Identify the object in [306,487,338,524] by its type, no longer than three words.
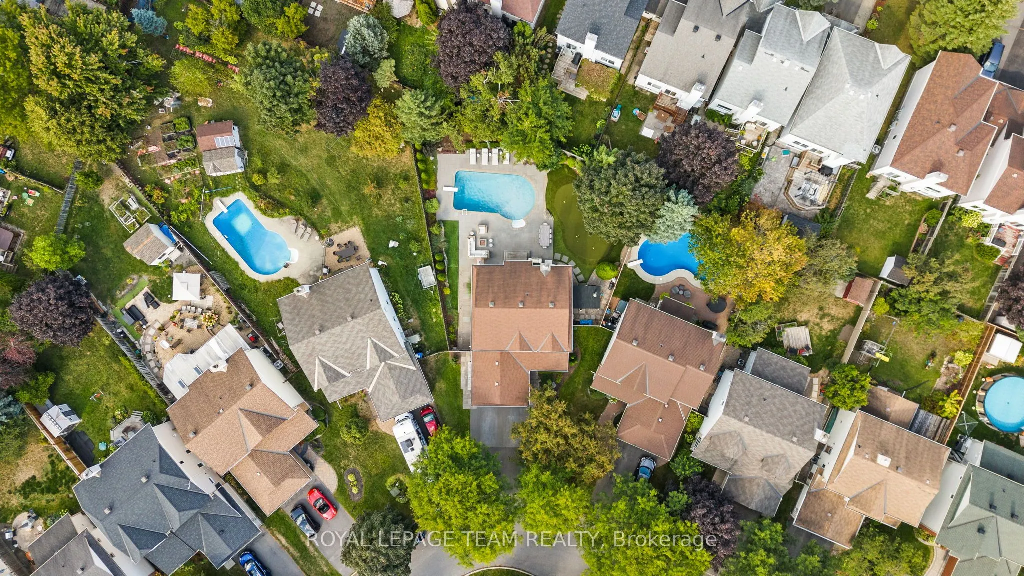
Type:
car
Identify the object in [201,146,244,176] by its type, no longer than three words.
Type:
shed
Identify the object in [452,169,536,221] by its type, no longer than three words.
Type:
swimming pool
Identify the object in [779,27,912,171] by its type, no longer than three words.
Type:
house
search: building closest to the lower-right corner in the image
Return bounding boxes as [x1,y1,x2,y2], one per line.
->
[920,438,1024,576]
